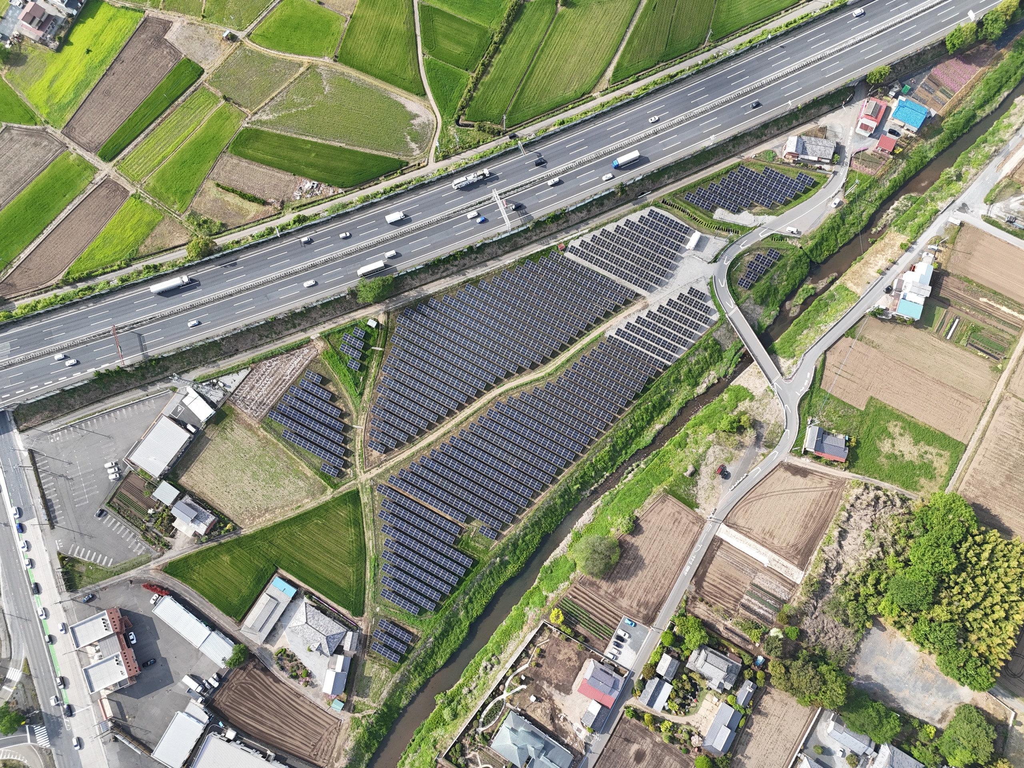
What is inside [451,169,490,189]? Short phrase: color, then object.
white vehicle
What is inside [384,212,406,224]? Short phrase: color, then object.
white vehicle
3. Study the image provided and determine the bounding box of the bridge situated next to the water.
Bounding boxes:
[728,312,777,376]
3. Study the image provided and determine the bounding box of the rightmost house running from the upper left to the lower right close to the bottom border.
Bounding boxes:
[825,713,877,757]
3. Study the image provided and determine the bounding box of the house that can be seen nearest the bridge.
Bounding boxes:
[802,425,849,462]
